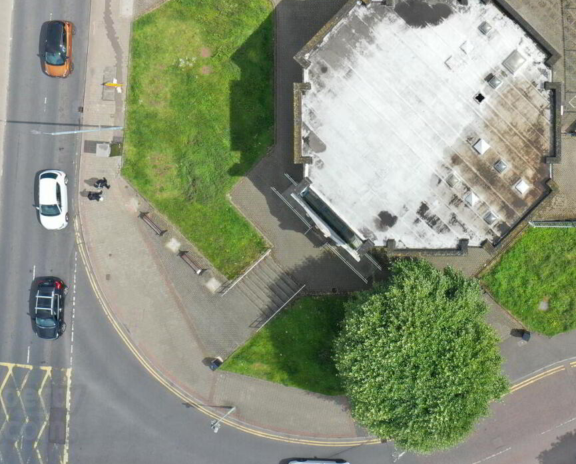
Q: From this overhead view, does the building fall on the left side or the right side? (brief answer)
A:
right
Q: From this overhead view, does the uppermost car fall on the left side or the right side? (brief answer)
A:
left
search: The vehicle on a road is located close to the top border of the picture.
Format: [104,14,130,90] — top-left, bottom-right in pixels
[40,19,77,78]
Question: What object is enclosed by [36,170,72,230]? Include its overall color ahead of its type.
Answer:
white car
